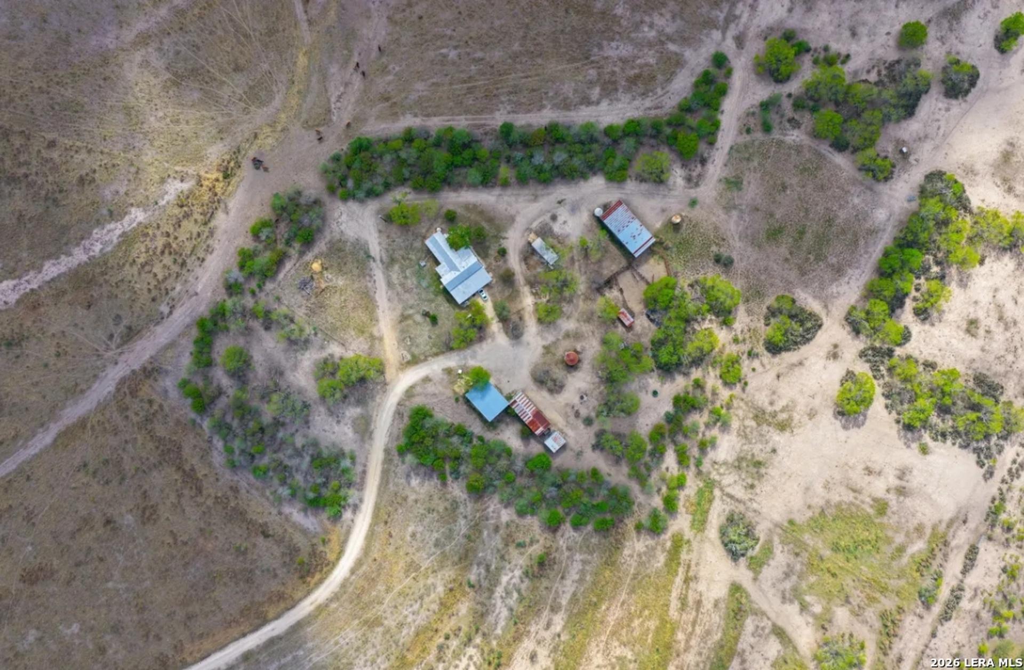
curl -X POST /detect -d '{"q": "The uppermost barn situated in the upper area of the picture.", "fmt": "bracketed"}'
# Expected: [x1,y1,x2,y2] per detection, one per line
[599,200,656,257]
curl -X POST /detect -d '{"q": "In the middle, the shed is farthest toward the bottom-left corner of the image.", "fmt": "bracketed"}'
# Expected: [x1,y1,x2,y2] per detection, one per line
[465,380,509,421]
